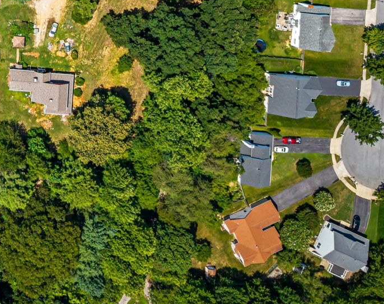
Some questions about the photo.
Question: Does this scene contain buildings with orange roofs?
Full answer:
Yes, the photo shows a building with an orange roof.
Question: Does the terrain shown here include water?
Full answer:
No, no water is visible.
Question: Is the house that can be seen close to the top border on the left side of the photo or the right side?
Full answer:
The house that can be seen close to the top border is on the right side of the image.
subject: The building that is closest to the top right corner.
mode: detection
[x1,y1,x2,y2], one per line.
[291,0,336,50]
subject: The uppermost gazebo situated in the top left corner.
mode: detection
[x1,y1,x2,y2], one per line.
[11,35,25,48]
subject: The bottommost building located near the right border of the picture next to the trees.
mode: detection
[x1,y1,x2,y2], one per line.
[310,218,372,273]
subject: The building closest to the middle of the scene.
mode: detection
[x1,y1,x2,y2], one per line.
[236,133,272,188]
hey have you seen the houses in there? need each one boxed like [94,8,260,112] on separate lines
[8,68,75,116]
[261,72,321,118]
[291,0,336,50]
[236,133,272,188]
[310,218,372,273]
[221,197,284,267]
